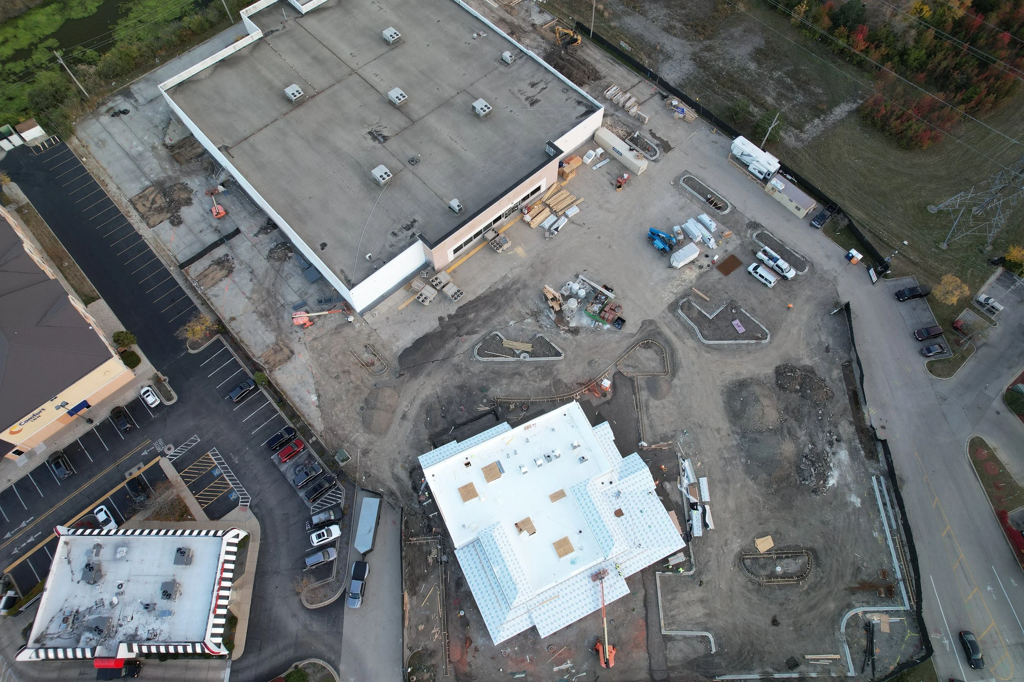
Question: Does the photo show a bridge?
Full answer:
No, the frame has no bridge in it.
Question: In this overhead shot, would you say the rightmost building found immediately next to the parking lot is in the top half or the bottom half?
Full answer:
The bottom half of the photo is where the rightmost building found immediately next to the parking lot is.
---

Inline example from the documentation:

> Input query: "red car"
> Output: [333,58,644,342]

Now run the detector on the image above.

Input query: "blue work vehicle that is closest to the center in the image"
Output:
[646,232,679,255]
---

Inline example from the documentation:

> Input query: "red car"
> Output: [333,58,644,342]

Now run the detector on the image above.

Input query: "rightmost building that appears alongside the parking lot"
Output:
[418,400,686,646]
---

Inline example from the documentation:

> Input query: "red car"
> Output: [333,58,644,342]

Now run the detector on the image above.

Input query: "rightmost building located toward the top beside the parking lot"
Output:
[159,0,604,311]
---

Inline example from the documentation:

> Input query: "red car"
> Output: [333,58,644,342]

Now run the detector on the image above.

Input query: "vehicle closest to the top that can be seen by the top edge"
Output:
[552,19,589,47]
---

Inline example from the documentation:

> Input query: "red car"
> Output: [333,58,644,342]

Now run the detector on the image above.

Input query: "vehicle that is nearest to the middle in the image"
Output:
[541,285,566,313]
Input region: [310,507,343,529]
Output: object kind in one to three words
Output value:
car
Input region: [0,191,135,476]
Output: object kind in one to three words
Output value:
building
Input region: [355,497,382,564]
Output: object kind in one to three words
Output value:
trailer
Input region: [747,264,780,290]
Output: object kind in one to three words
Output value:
vehicle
